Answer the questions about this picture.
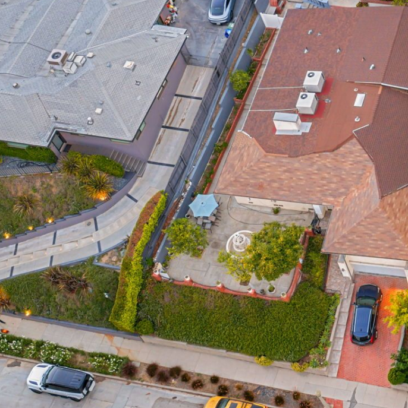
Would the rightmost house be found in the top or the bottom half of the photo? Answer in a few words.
top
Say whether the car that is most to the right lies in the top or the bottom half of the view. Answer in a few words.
bottom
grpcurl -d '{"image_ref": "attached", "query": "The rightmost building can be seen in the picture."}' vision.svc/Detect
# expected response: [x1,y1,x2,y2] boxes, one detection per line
[214,6,408,275]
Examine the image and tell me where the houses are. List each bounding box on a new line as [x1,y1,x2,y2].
[0,0,191,164]
[214,6,408,275]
